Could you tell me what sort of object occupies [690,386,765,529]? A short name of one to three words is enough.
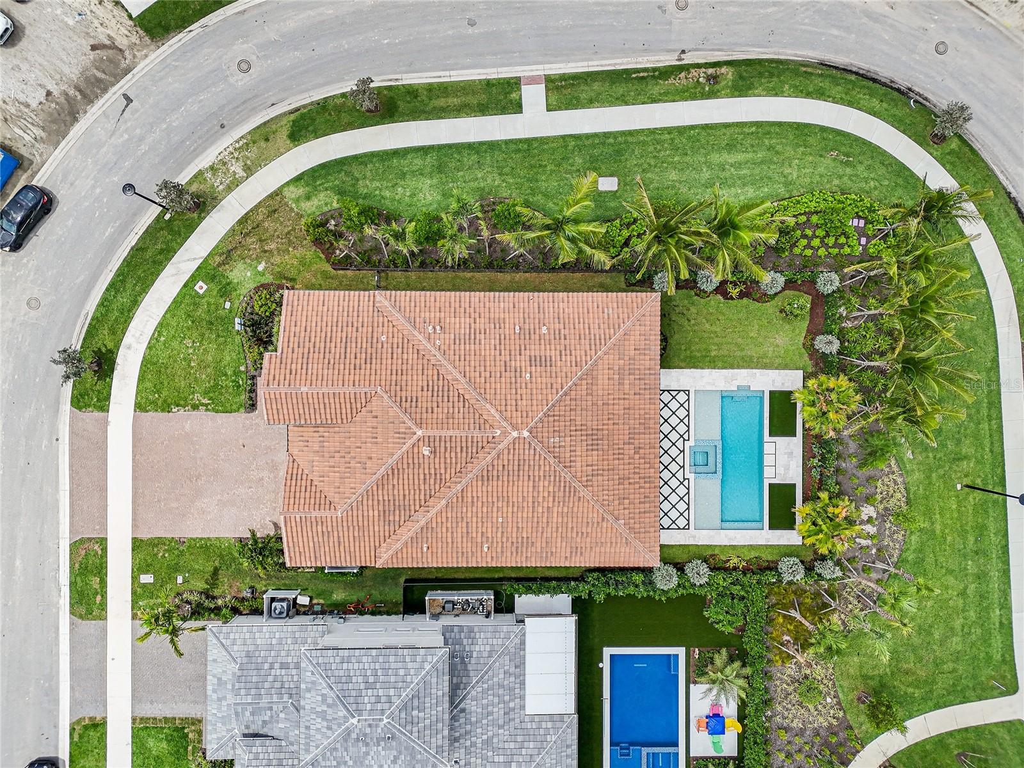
swimming pool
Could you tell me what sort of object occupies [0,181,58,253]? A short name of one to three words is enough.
car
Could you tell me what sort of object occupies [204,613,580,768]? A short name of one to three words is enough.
house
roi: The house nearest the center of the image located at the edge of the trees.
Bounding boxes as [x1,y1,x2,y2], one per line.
[258,290,662,570]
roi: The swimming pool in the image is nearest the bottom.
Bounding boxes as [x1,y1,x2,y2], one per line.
[603,646,686,768]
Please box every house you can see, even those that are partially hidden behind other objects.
[258,290,662,570]
[204,613,580,768]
